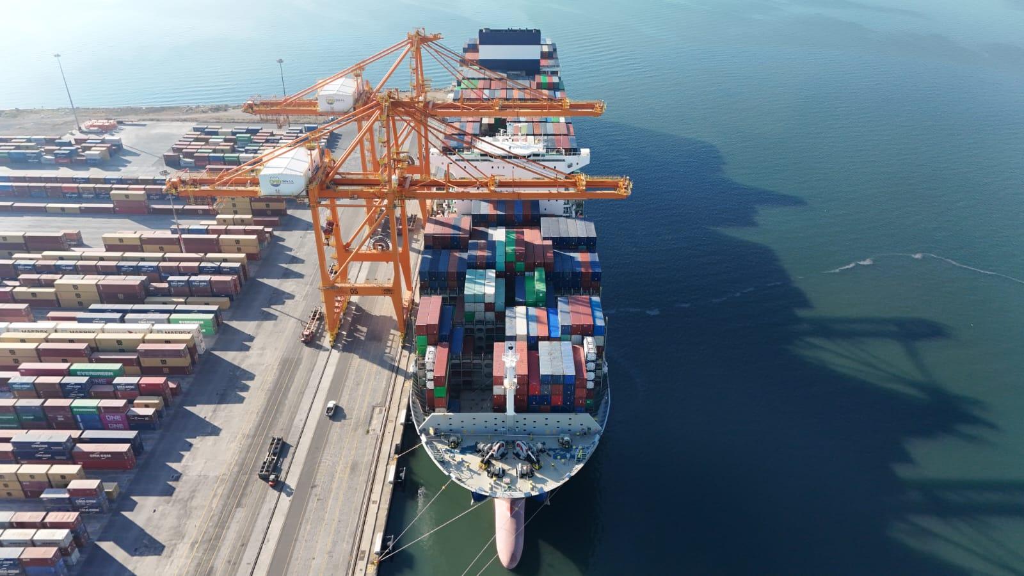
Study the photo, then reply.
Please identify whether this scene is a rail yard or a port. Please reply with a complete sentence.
The area seen from above is a port.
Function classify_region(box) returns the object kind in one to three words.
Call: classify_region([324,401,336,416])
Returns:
vehicle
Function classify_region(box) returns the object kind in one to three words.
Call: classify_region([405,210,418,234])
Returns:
vehicle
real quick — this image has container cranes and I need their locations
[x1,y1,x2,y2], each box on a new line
[242,22,605,241]
[162,82,634,356]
